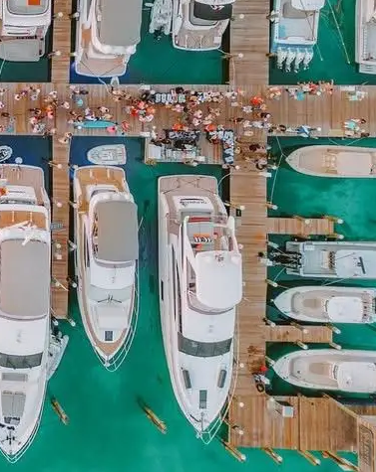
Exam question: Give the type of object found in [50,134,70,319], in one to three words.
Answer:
pier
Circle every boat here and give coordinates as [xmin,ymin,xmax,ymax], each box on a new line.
[276,241,376,280]
[171,0,234,50]
[348,0,376,74]
[75,0,143,77]
[0,165,70,457]
[88,145,127,166]
[272,283,376,323]
[285,146,376,177]
[45,323,70,373]
[272,0,349,63]
[273,347,376,393]
[148,0,172,39]
[0,145,14,160]
[74,167,142,371]
[0,0,53,61]
[154,172,241,443]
